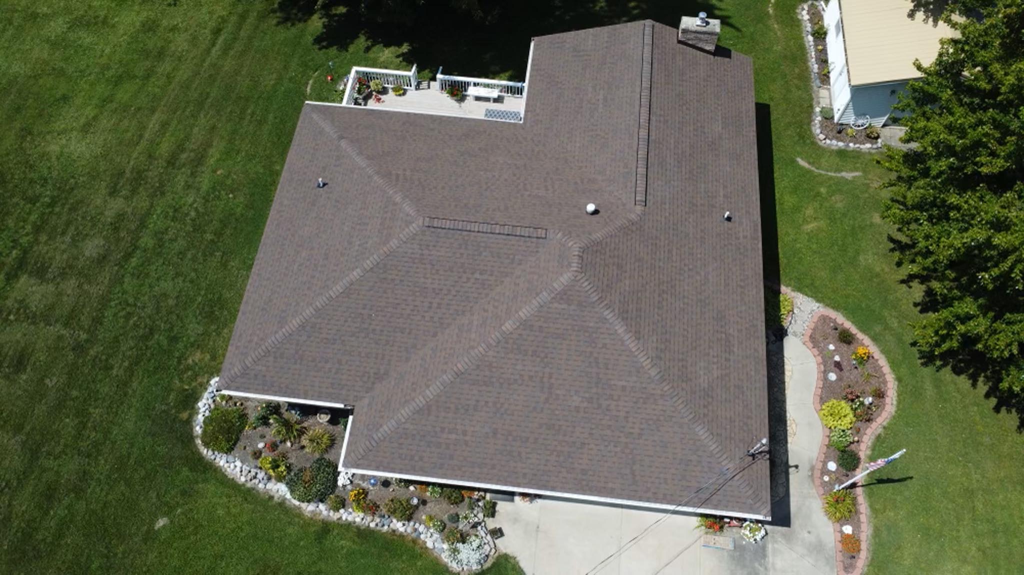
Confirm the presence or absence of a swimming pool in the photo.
No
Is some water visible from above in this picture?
No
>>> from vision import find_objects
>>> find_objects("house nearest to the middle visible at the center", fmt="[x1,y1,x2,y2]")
[218,14,771,525]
